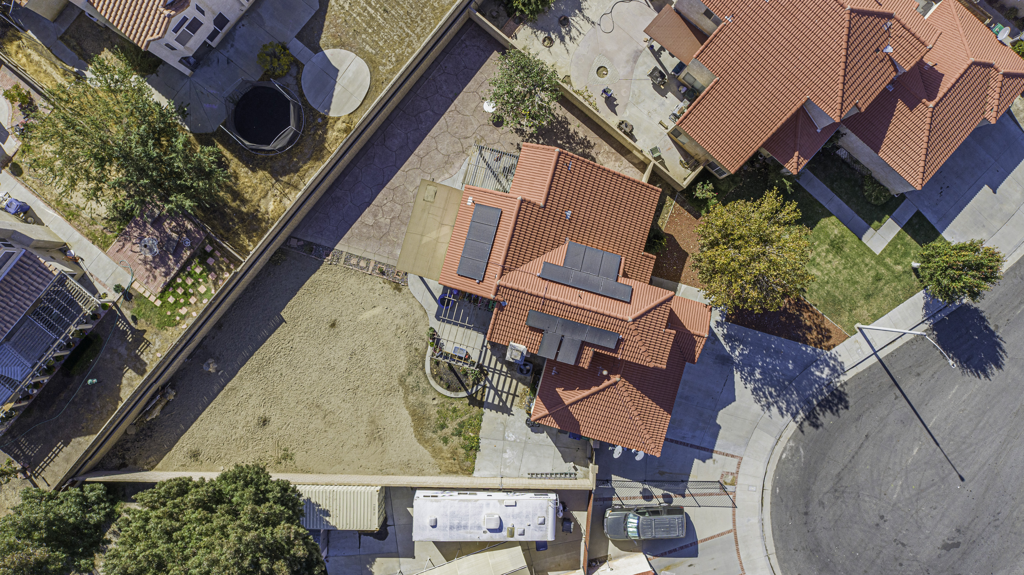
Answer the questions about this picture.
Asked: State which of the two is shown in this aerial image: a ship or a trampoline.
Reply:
trampoline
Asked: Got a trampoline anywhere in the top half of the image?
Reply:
Yes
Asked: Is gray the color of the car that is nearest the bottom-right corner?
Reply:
Yes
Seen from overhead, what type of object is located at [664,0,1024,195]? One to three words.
house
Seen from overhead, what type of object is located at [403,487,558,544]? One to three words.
vehicle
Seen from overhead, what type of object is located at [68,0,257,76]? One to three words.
house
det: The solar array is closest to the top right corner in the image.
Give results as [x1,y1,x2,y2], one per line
[541,241,633,301]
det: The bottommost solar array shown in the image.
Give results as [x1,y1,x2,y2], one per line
[526,311,619,366]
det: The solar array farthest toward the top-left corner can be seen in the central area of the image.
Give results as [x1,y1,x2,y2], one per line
[455,203,500,280]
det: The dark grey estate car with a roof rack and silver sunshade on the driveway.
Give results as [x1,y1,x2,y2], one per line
[601,502,684,544]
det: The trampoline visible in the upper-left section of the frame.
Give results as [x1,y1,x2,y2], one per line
[215,73,305,159]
